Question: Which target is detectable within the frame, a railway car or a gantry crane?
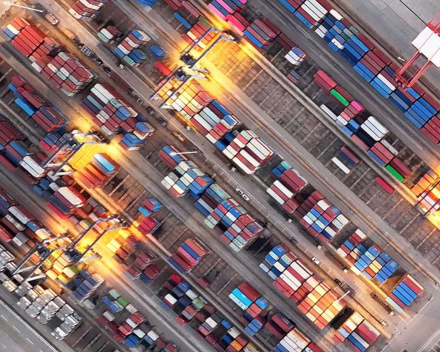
gantry crane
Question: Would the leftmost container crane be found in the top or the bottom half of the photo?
bottom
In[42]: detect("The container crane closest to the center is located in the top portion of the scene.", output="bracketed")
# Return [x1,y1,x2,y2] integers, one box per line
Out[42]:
[148,64,209,114]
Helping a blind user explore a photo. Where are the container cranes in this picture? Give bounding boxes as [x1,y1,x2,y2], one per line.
[180,26,235,75]
[66,214,128,262]
[43,129,104,179]
[148,64,209,114]
[17,230,72,282]
[391,14,440,92]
